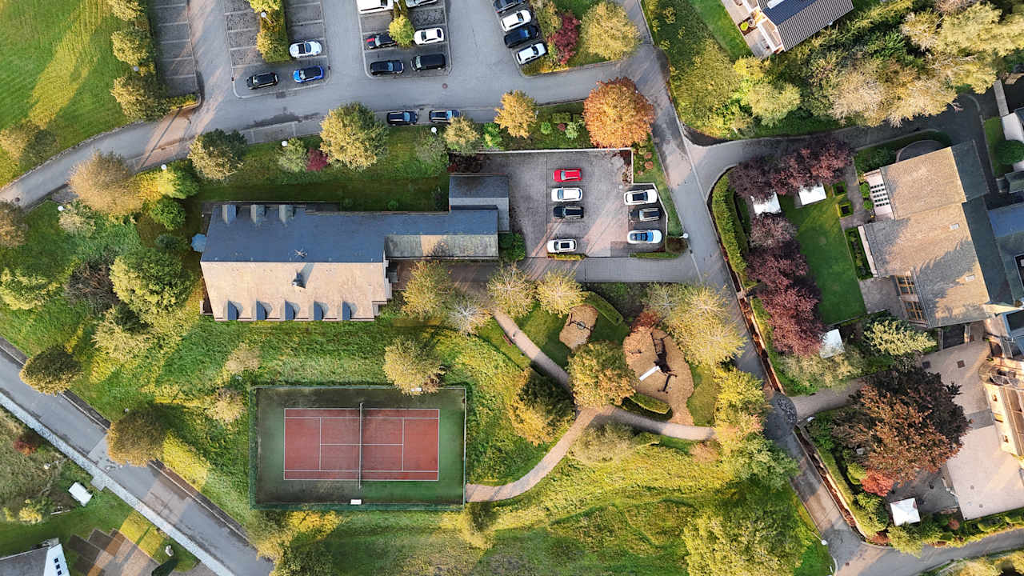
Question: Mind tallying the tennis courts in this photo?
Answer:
1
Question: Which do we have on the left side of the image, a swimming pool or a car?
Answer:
car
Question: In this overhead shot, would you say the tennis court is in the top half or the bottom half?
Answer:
bottom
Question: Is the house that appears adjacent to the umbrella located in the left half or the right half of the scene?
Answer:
left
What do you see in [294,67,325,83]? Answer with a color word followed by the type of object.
blue car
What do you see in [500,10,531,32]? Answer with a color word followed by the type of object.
white car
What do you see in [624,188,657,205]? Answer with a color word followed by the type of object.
white car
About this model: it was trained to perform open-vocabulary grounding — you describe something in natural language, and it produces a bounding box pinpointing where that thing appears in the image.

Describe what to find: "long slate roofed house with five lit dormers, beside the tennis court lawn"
[200,204,497,322]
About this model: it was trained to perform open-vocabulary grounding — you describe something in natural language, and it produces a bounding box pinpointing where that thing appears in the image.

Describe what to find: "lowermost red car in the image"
[552,167,582,182]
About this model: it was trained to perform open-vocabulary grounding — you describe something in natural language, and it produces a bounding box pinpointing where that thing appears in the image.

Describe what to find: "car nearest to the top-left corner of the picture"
[247,73,279,90]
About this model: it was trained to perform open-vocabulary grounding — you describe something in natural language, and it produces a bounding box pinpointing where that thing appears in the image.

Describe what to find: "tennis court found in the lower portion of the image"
[257,388,465,504]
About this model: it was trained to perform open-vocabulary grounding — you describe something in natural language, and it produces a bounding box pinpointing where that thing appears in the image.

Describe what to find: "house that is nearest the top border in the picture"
[744,0,867,59]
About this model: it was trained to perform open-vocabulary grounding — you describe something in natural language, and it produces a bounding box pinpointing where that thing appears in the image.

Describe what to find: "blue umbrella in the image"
[190,234,206,250]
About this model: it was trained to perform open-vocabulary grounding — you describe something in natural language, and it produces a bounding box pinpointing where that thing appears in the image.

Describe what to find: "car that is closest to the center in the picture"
[546,239,576,254]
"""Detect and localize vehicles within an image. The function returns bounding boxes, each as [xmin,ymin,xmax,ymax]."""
[546,239,576,254]
[627,229,661,244]
[628,207,661,222]
[553,204,583,219]
[429,108,460,124]
[551,187,582,202]
[500,10,531,32]
[516,43,547,64]
[492,0,523,15]
[294,67,325,83]
[411,53,445,71]
[624,188,657,205]
[505,25,538,47]
[291,41,321,59]
[405,0,437,10]
[353,0,394,14]
[415,29,445,45]
[371,59,404,76]
[552,167,582,182]
[247,73,279,90]
[367,34,397,50]
[388,109,418,125]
